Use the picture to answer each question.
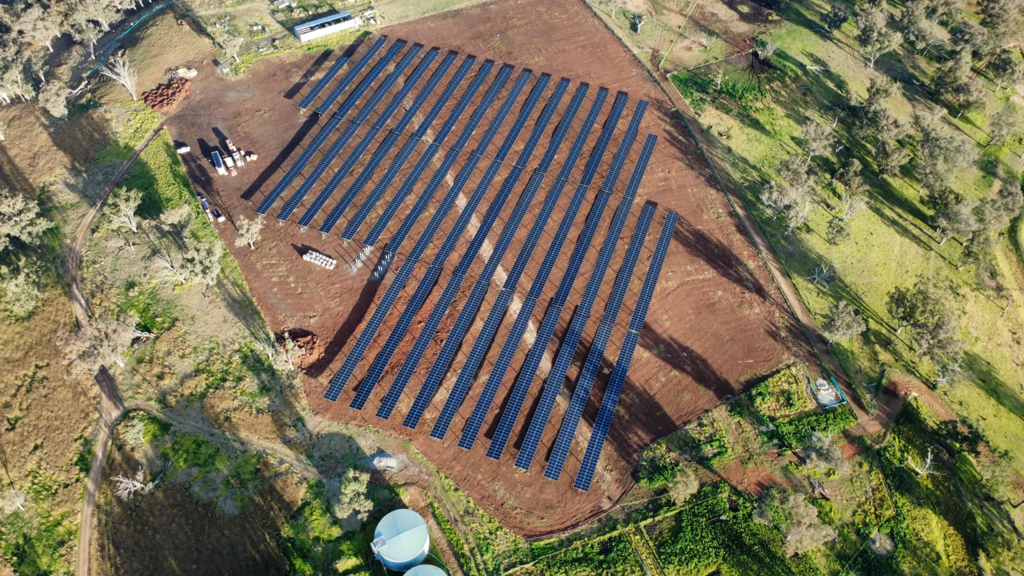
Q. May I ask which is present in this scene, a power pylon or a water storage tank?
water storage tank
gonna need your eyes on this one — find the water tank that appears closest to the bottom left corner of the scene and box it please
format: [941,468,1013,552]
[370,514,429,574]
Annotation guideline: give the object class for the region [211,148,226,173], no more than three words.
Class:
vehicle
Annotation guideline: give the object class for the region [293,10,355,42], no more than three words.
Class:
shed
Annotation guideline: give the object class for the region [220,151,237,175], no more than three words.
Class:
vehicle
